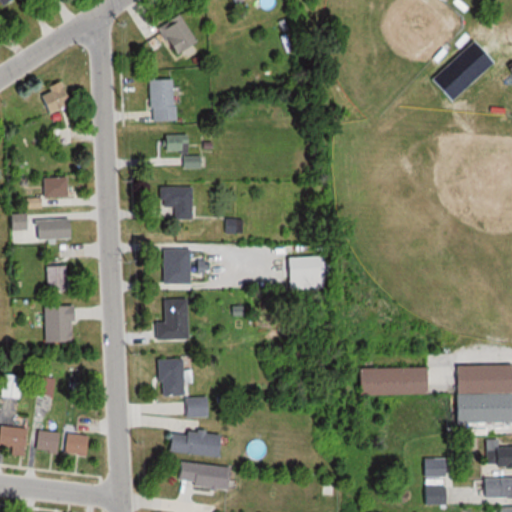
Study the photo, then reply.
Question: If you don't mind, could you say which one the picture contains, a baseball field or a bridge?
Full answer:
Of the two, only a baseball field appears.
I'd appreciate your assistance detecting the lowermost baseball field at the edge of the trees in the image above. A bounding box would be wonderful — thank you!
[334,108,512,340]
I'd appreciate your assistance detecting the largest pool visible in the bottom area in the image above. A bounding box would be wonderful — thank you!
[246,440,268,460]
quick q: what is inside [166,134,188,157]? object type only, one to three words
house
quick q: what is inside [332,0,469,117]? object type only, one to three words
baseball field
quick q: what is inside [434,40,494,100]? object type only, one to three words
barn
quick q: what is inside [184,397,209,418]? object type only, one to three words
building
